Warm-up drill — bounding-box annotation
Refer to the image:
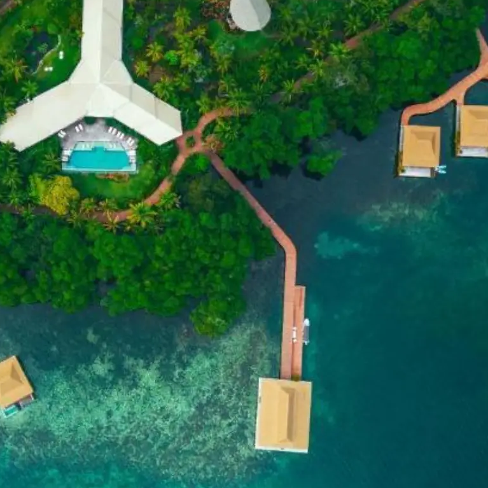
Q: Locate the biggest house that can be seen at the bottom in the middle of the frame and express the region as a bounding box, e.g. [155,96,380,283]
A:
[253,377,313,452]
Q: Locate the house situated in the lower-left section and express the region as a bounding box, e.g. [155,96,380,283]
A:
[0,356,33,408]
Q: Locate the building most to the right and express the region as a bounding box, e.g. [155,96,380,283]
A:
[456,105,488,157]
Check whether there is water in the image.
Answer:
Yes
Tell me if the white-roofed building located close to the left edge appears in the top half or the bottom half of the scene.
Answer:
top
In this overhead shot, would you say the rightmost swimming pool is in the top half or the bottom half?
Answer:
top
